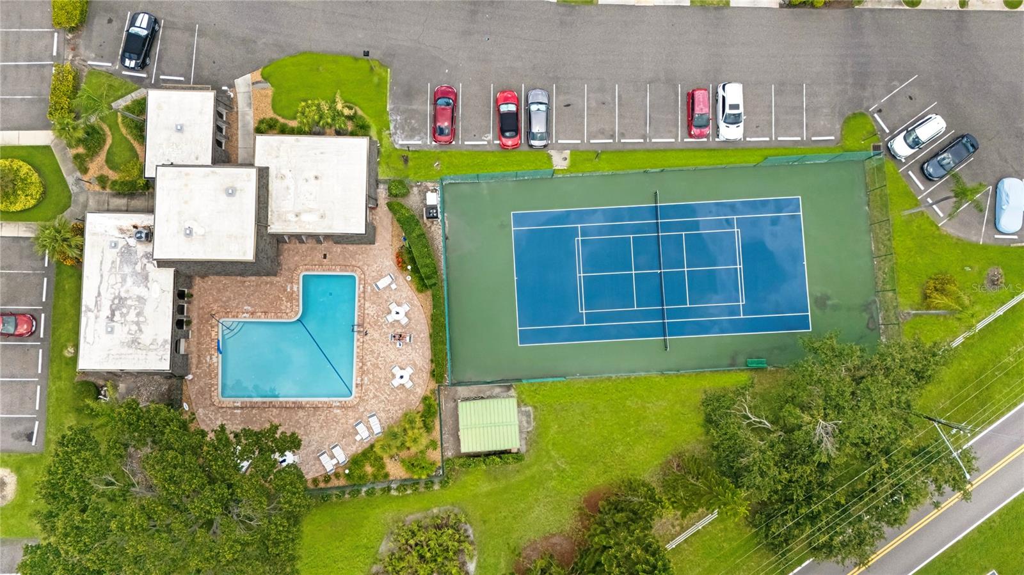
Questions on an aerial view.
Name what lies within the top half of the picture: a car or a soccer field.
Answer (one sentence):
The feature located within the top half of the picture is a car.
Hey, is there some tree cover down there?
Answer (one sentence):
Yes, some tree cover is visible.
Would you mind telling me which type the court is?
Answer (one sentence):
I'd say the court is a tennis court.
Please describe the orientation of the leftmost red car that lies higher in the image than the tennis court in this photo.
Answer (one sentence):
The leftmost red car that lies higher in the image than the tennis court is laid out vertically.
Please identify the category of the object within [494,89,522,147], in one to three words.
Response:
car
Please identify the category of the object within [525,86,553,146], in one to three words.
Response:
car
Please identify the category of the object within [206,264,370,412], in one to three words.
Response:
swimming pool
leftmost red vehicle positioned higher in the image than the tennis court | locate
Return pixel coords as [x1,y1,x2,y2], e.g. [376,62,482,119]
[431,84,458,142]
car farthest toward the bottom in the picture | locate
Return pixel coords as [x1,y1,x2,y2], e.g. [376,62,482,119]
[0,311,33,339]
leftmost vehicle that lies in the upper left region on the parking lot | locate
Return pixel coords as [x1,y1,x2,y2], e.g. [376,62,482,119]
[115,9,153,68]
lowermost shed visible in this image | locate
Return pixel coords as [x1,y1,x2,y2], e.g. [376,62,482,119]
[458,398,520,453]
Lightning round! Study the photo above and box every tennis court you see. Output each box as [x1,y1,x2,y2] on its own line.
[442,160,882,384]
